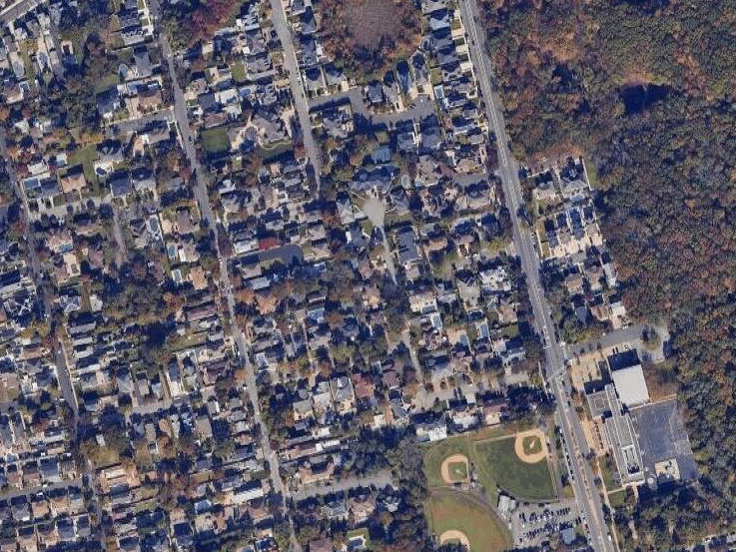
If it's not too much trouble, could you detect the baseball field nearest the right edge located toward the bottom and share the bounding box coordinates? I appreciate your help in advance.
[471,429,563,501]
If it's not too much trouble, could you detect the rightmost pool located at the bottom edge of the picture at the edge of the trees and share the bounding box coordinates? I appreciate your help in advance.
[347,534,365,550]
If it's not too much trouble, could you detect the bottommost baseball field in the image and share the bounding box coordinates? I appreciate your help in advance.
[425,491,513,552]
